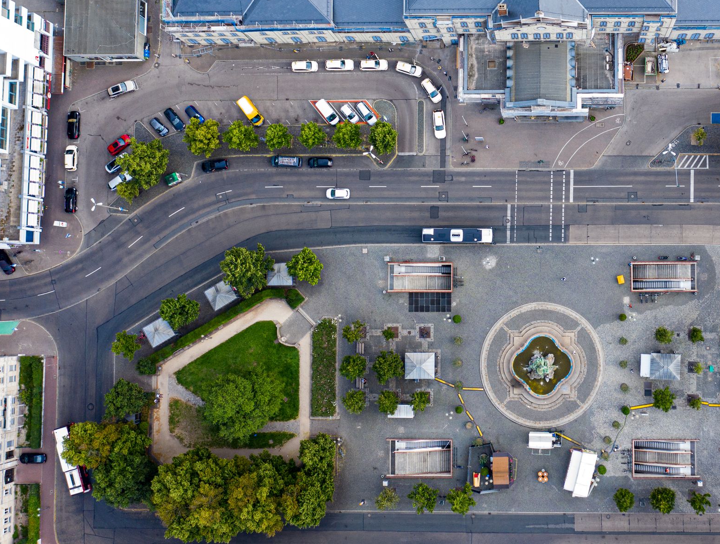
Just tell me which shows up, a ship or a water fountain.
water fountain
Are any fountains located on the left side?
No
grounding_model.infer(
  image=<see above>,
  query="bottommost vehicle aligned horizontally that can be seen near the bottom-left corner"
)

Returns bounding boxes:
[20,453,47,465]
